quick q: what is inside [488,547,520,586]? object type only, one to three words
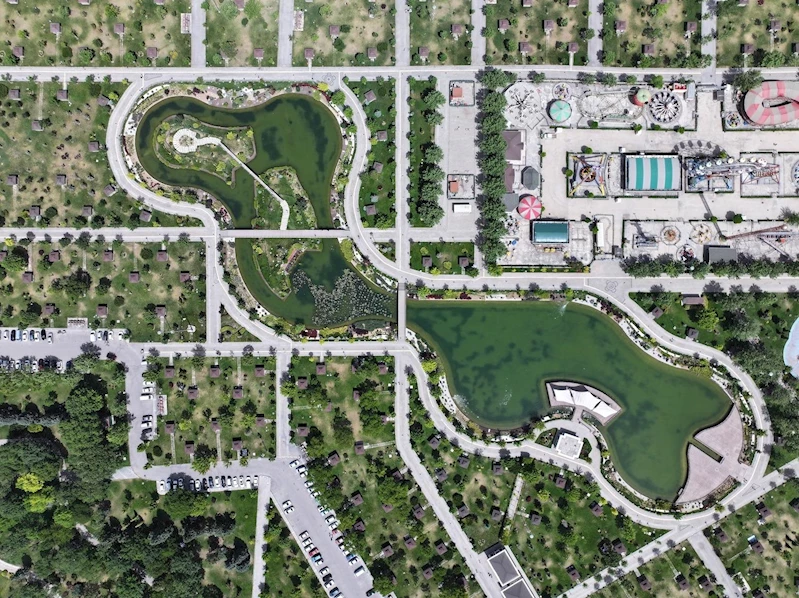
building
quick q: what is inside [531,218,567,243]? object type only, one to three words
building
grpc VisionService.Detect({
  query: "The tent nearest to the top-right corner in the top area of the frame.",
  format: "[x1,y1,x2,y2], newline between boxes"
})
[737,81,799,129]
